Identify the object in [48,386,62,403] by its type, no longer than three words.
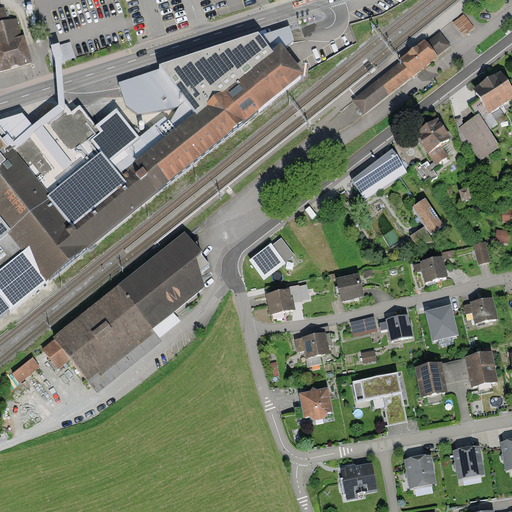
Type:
vehicle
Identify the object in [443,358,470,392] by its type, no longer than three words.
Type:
building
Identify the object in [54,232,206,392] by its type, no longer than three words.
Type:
warehouse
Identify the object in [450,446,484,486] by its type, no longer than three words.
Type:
house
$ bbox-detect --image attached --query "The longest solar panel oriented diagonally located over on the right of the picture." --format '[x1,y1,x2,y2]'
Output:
[357,158,402,193]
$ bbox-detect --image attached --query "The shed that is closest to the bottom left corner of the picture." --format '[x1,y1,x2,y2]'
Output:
[12,358,40,383]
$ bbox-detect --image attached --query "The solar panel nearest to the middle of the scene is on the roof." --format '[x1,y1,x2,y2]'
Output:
[253,248,280,274]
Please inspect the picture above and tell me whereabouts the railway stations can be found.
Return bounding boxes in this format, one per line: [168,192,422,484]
[352,40,438,114]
